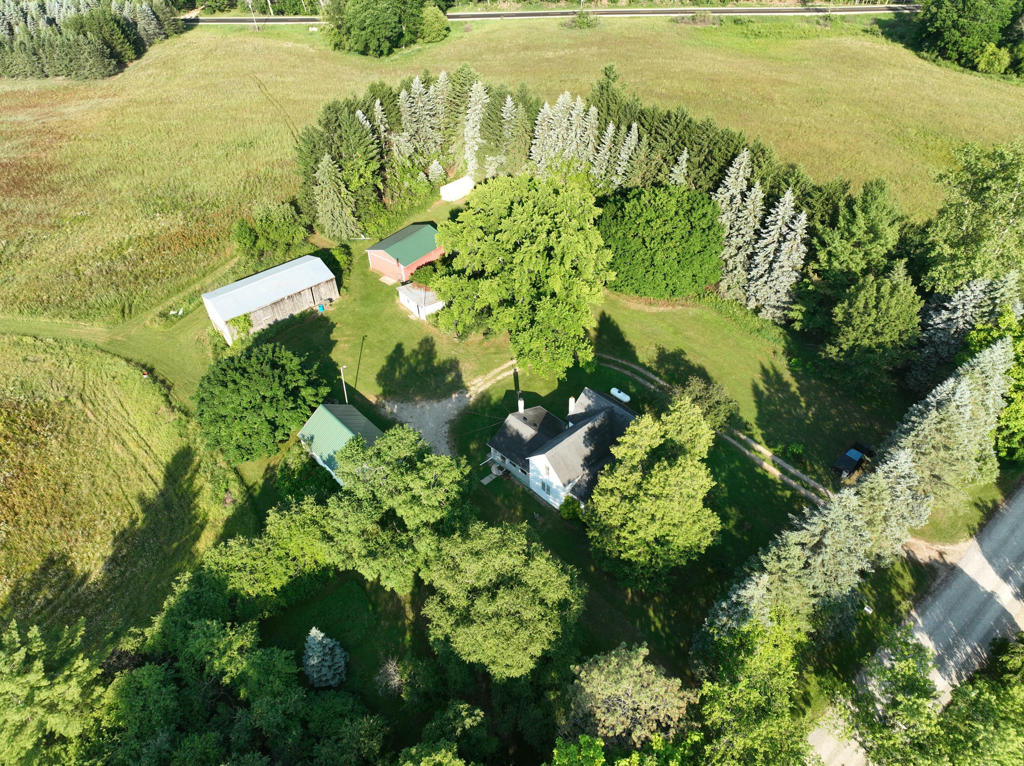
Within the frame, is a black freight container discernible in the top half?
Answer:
No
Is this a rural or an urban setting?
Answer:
rural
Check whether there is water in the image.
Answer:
No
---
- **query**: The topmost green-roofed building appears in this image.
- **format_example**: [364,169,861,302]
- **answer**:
[366,223,448,282]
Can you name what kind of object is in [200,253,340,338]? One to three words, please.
barn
